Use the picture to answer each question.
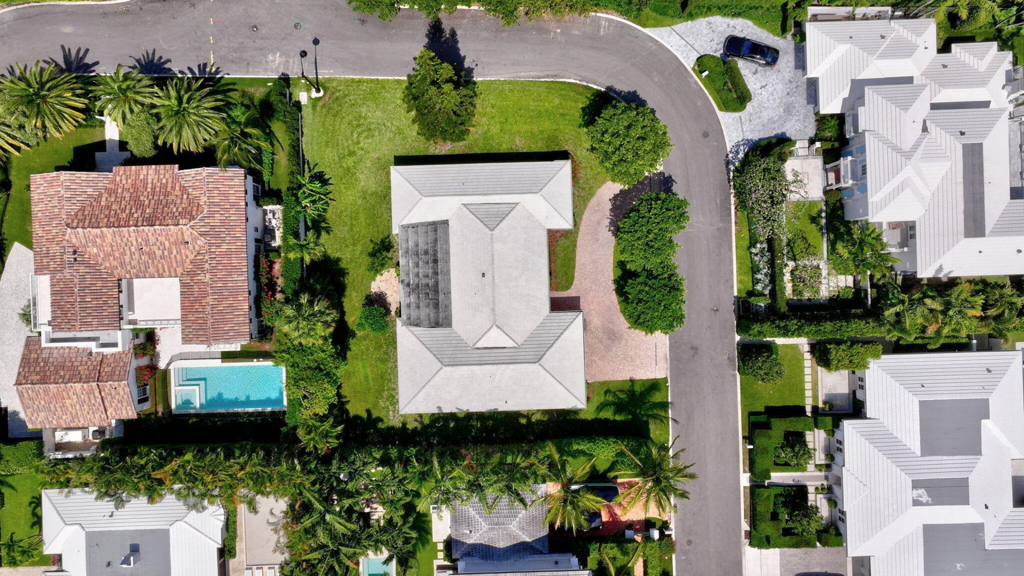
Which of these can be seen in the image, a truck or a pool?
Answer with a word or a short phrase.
pool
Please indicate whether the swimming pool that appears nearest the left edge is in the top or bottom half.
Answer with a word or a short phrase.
bottom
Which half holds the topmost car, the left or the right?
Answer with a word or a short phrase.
right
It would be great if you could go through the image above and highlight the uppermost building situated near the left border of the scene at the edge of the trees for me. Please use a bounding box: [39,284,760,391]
[30,164,267,352]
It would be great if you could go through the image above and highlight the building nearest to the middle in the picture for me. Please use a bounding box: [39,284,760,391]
[390,160,587,414]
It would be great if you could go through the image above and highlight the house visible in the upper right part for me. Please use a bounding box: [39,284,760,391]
[804,19,1024,277]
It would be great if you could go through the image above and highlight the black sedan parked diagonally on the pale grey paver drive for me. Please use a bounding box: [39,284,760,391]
[728,33,783,65]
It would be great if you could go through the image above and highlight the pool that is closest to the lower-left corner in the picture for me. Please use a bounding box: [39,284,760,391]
[170,359,287,414]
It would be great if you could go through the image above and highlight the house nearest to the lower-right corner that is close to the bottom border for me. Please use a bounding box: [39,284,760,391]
[833,351,1024,576]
